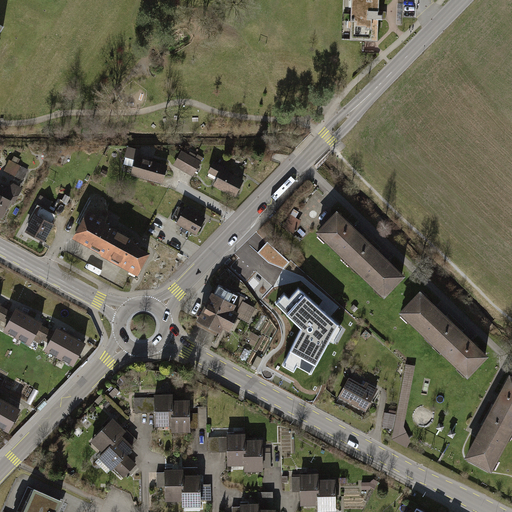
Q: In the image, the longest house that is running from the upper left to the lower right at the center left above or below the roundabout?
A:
above it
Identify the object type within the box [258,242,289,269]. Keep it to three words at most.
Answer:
building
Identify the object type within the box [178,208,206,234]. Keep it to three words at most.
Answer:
house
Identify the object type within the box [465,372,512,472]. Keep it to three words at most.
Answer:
building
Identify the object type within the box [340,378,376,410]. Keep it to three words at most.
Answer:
house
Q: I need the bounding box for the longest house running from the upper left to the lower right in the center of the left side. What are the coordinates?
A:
[72,214,152,281]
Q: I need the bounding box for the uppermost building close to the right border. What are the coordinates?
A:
[398,294,488,378]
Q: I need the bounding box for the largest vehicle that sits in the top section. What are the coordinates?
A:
[272,178,296,200]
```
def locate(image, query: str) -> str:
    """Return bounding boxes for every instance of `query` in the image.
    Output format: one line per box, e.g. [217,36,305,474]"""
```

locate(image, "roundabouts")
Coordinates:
[129,310,158,340]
